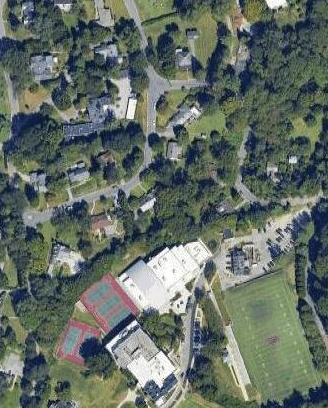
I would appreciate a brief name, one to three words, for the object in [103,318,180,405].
building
